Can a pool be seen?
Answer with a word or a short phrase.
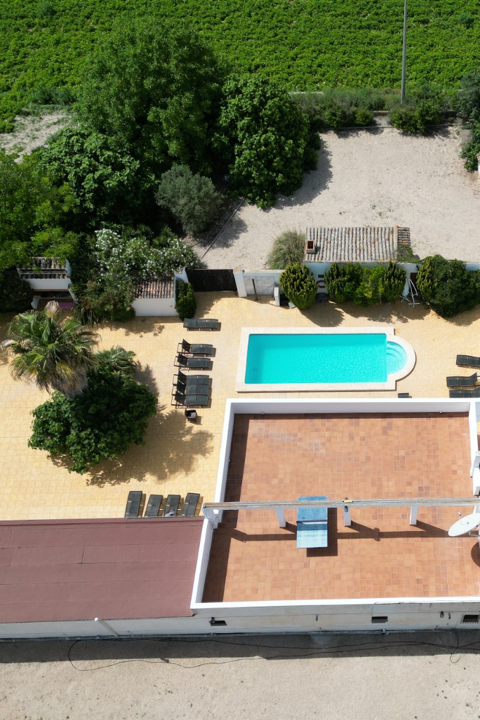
Yes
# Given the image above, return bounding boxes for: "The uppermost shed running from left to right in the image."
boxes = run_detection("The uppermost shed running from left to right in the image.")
[302,225,410,264]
